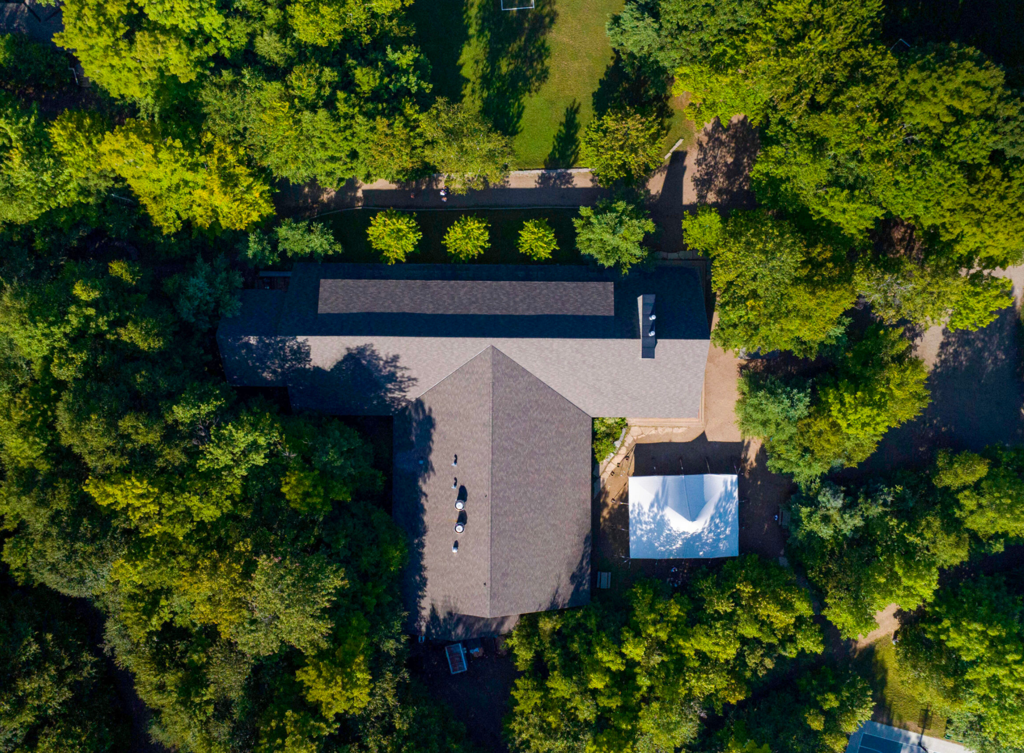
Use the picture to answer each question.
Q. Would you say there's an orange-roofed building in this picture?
No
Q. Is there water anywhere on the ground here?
No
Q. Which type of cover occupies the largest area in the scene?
trees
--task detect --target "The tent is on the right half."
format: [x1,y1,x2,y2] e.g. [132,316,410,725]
[609,455,750,571]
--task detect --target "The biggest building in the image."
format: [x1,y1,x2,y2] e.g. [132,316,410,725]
[214,261,713,641]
